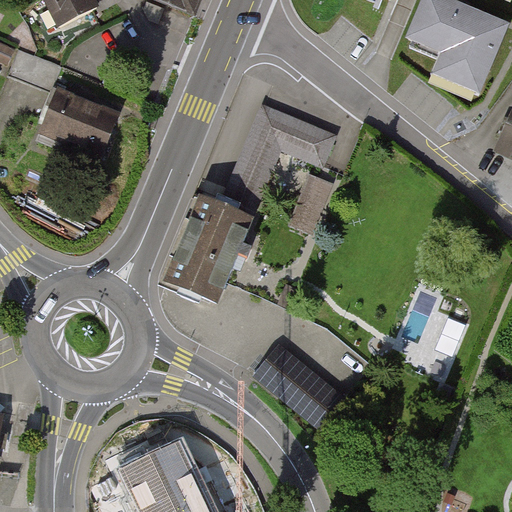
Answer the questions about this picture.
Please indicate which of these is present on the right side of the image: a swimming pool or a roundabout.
swimming pool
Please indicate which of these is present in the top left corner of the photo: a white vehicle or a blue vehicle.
blue vehicle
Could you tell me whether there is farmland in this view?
No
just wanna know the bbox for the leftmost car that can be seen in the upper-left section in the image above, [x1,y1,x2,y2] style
[102,28,116,50]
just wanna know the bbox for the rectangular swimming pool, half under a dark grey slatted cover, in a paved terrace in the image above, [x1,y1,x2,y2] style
[402,291,437,344]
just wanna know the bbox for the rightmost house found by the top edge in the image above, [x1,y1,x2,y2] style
[405,0,510,100]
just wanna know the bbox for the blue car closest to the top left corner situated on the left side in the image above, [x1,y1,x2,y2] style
[122,18,138,38]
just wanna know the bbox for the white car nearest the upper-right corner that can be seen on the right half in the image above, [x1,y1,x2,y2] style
[352,36,368,60]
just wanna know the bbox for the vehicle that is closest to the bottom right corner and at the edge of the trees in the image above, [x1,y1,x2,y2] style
[341,354,364,374]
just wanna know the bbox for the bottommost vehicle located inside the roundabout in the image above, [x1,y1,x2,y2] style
[35,295,57,320]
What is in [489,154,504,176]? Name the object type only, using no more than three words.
car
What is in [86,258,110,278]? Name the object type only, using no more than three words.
car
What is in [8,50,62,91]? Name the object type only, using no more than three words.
building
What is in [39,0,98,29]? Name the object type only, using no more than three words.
house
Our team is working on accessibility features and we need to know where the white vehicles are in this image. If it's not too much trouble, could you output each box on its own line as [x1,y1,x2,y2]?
[341,354,364,374]
[35,295,57,320]
[352,36,368,60]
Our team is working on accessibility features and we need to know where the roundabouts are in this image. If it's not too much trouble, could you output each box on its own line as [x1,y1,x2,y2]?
[22,268,154,402]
